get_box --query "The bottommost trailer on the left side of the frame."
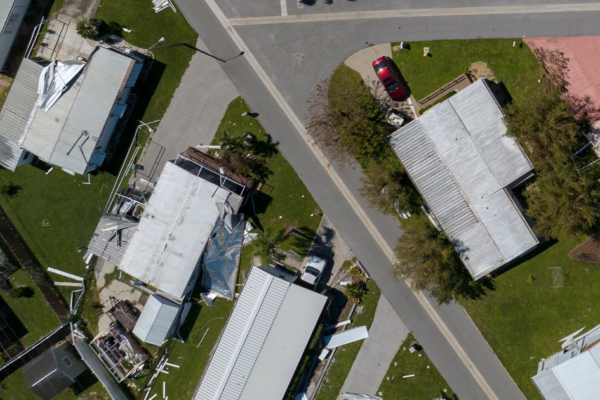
[107,299,140,333]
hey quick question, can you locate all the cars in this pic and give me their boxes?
[371,54,411,104]
[295,252,324,287]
